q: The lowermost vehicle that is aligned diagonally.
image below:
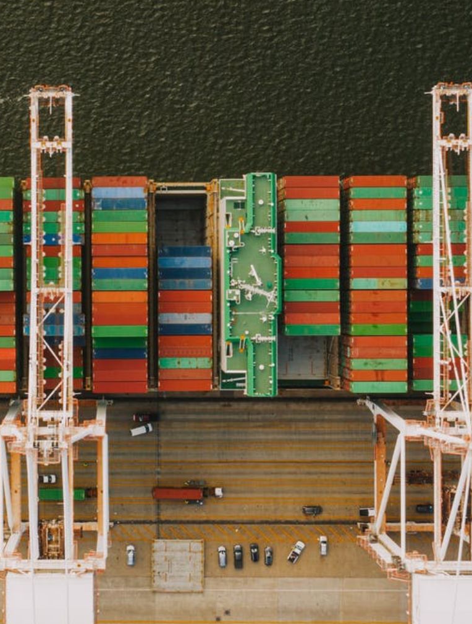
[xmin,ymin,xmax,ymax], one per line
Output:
[286,540,305,563]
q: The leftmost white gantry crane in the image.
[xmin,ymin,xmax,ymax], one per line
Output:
[0,82,112,624]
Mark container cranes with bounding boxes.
[353,81,472,624]
[0,82,112,624]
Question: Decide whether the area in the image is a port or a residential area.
port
